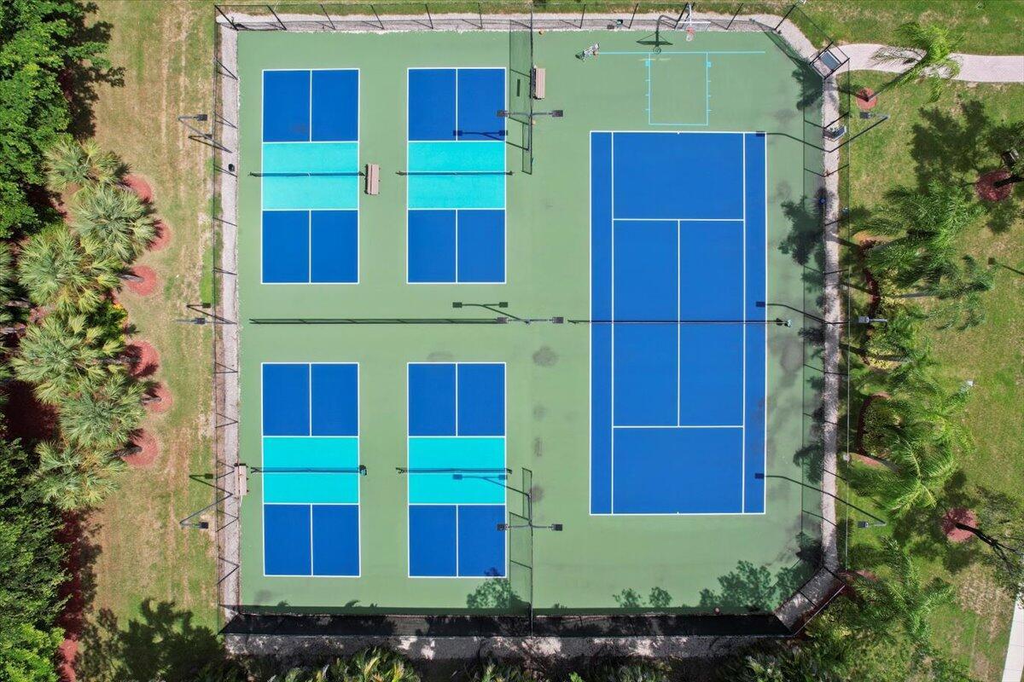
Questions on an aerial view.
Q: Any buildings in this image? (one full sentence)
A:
No, there's no building here.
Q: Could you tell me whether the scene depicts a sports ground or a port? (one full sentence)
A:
The area seen from above is a sports ground.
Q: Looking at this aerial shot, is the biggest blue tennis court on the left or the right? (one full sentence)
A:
The biggest blue tennis court sits on the right side.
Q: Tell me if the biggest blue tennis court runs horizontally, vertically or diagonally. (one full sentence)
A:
The biggest blue tennis court runs vertically in the image.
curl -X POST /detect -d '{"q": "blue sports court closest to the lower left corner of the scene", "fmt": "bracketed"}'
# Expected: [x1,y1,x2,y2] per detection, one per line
[261,363,360,578]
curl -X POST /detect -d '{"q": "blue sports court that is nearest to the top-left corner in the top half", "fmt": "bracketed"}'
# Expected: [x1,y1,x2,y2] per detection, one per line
[261,68,360,284]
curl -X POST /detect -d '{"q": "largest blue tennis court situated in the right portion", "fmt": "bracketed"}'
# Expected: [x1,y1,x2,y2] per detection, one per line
[589,130,767,516]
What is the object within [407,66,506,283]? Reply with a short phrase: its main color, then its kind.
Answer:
blue sports court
